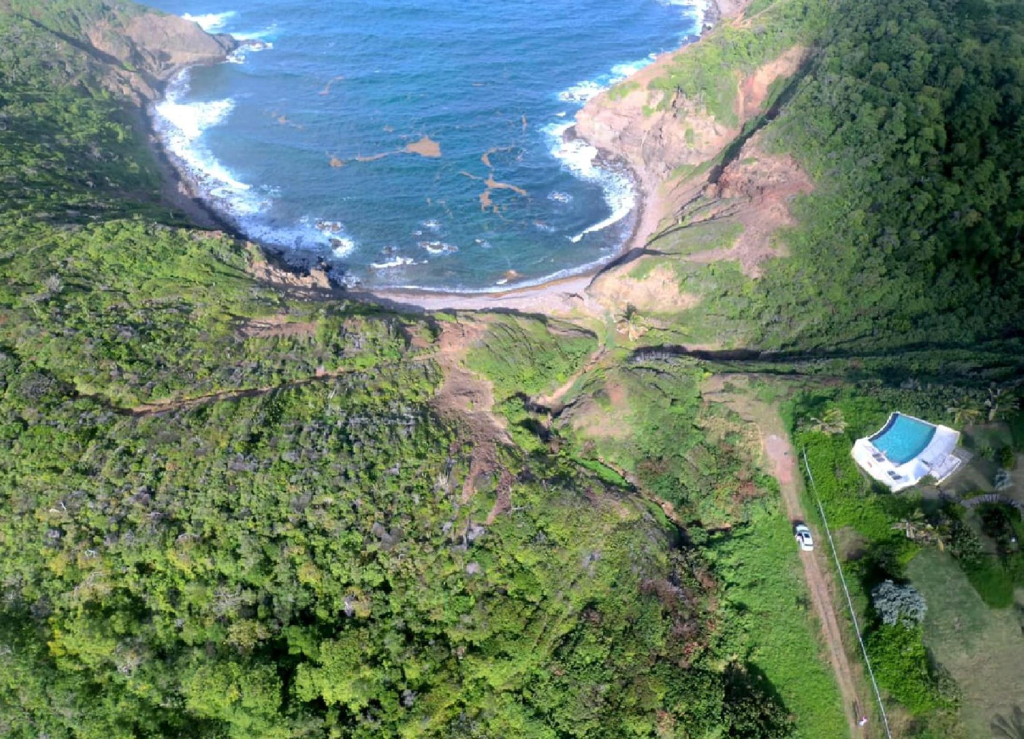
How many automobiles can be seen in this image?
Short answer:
1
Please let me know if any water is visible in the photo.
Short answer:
Yes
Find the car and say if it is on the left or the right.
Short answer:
right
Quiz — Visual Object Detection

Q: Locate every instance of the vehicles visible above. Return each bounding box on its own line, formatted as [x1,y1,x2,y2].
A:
[792,528,814,553]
